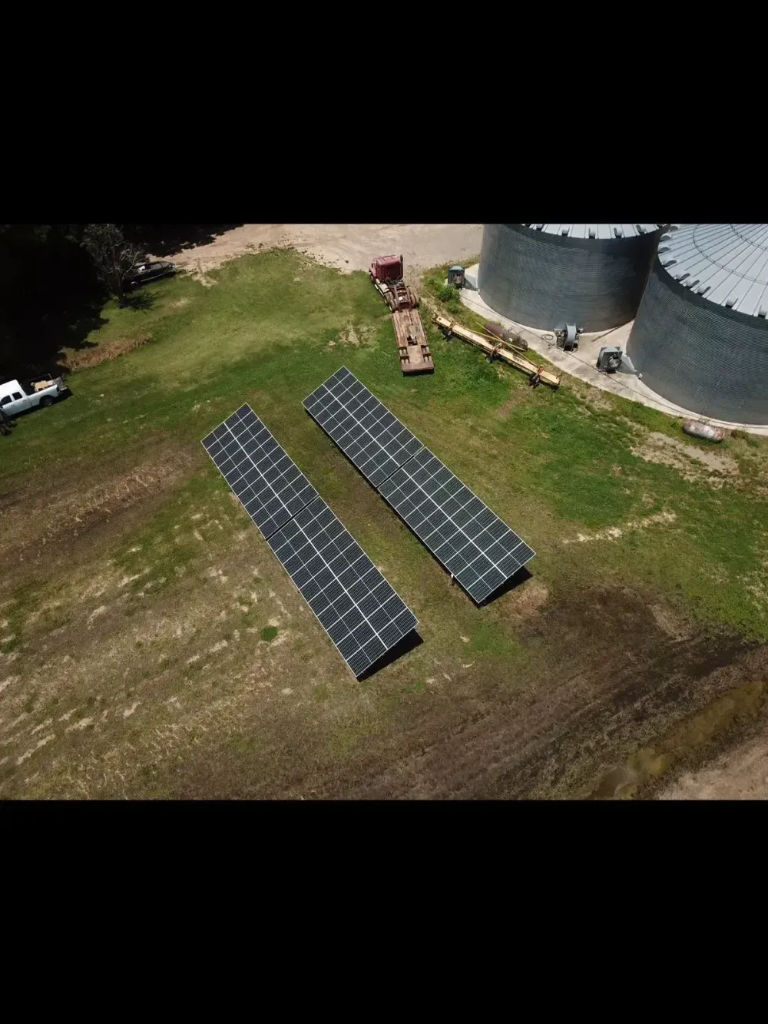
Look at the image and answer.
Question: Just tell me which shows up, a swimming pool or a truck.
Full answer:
The one in the frame is a truck.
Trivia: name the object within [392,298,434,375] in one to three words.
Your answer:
trailer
